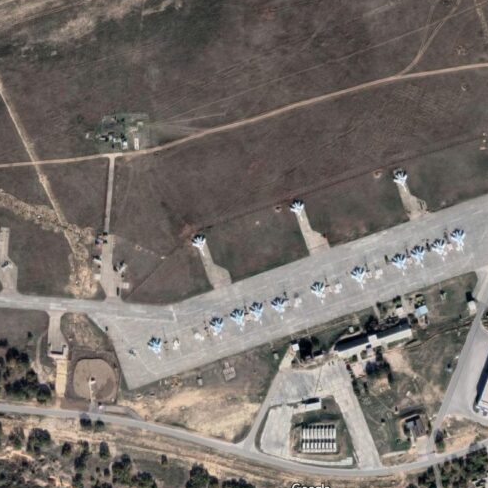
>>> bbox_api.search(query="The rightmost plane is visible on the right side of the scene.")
[451,229,465,250]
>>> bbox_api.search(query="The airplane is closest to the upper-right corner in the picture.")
[393,167,407,189]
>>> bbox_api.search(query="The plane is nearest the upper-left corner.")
[190,232,204,254]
